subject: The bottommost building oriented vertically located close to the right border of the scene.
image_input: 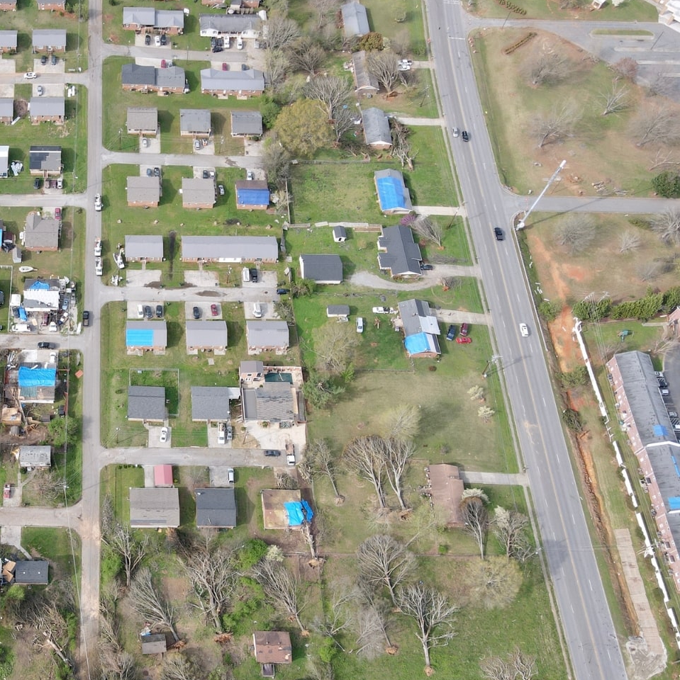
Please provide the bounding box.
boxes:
[601,352,680,645]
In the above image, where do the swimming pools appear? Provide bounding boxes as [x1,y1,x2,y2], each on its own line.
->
[267,371,295,383]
